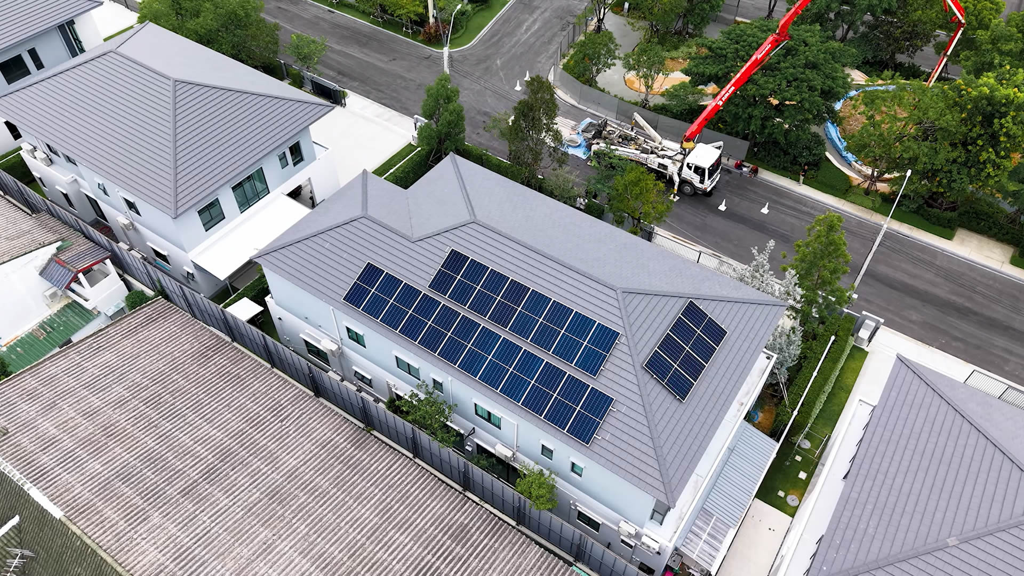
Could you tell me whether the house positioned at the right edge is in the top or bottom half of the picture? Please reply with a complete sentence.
The house positioned at the right edge is in the bottom half of the image.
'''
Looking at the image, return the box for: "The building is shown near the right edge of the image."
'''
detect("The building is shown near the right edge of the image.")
[767,352,1024,576]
